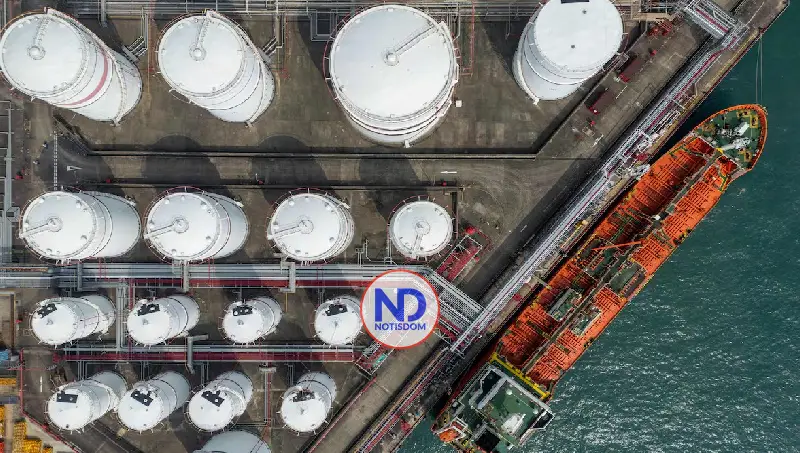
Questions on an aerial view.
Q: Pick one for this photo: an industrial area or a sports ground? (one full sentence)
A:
What you see here is an industrial area.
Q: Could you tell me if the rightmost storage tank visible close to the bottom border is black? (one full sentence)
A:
No, the rightmost storage tank visible close to the bottom border is actually white.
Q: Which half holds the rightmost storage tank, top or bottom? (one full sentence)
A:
You can find the rightmost storage tank in the top half.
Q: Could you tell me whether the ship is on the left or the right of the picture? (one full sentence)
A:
The ship sits on the right side.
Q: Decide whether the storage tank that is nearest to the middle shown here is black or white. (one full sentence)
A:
The storage tank that is nearest to the middle is white.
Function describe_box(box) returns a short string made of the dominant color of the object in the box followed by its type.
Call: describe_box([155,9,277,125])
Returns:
white storage tank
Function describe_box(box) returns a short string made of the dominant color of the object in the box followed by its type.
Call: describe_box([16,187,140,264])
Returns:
white storage tank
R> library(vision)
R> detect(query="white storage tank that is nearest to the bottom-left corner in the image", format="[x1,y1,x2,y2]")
[45,369,129,435]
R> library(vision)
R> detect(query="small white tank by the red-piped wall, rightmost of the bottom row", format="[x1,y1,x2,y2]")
[277,370,337,437]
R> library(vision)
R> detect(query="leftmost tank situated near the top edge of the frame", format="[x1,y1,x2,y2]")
[0,8,147,123]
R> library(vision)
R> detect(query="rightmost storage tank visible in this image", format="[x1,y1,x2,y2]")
[509,0,627,102]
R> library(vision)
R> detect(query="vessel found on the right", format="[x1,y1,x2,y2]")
[424,97,771,453]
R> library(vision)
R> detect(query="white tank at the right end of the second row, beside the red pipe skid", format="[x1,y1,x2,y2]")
[385,197,457,262]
